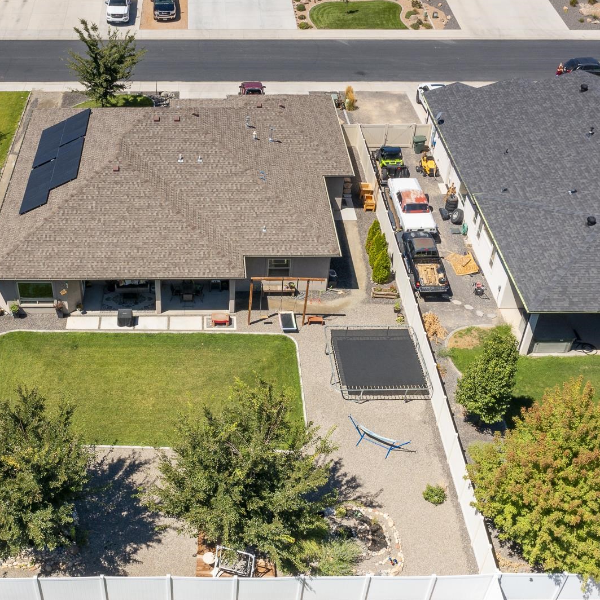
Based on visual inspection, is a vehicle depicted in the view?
Yes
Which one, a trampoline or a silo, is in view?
trampoline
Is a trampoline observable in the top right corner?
No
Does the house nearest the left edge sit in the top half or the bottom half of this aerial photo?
top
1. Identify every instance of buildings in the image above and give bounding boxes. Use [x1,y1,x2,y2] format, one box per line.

[428,65,600,353]
[0,91,357,314]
